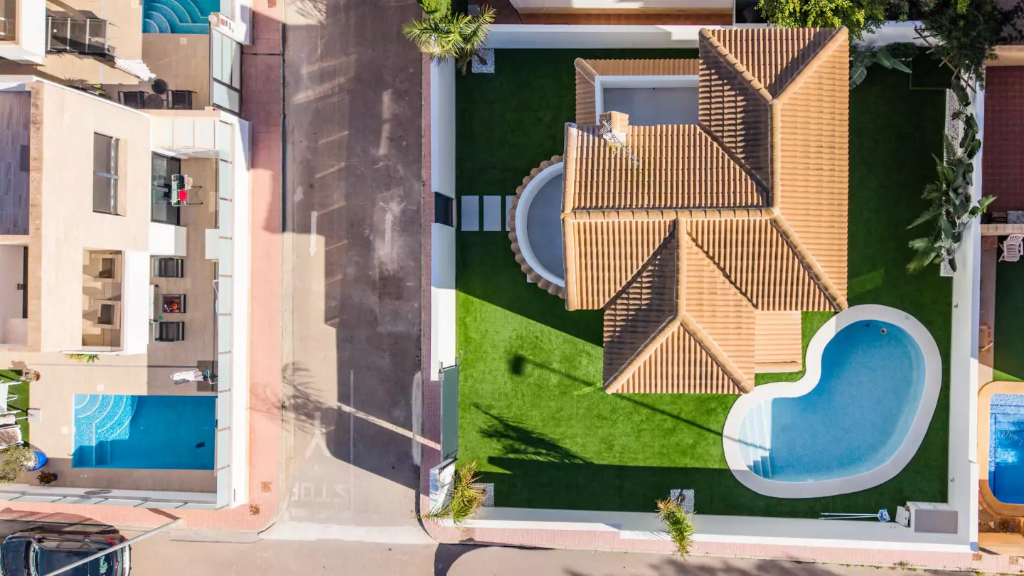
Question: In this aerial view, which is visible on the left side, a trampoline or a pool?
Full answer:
It is a pool that can be seen on the left side.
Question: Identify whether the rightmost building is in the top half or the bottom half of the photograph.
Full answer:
You can find the rightmost building in the bottom half.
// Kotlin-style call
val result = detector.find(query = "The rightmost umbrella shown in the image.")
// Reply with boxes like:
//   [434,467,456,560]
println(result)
[169,361,217,391]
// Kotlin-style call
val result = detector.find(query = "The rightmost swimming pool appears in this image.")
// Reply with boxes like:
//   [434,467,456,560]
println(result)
[979,382,1024,517]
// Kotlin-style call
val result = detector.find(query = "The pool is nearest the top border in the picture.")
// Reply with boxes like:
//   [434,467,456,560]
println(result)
[141,0,221,34]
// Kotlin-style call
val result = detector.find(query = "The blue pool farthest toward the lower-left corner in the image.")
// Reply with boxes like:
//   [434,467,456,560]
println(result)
[71,395,216,470]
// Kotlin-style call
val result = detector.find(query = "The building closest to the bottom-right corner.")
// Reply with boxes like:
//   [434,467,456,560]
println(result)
[908,500,959,532]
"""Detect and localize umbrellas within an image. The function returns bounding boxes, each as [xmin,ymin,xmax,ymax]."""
[169,361,217,391]
[114,57,159,87]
